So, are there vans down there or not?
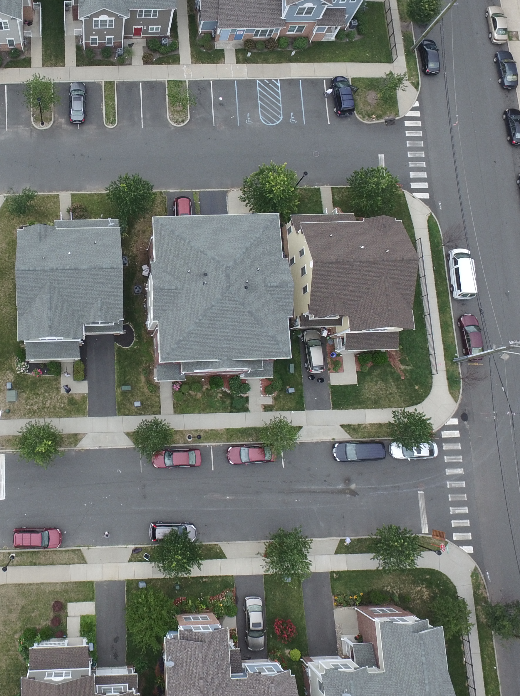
Yes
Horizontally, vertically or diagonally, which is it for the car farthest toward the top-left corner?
vertically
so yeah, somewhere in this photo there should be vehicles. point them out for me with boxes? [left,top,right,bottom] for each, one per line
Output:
[173,193,192,216]
[226,444,278,466]
[503,109,520,146]
[325,77,362,117]
[418,39,441,76]
[458,315,487,361]
[152,449,202,470]
[331,439,388,463]
[449,249,481,300]
[387,441,440,462]
[68,82,87,125]
[494,51,520,91]
[302,330,326,373]
[13,526,62,551]
[484,6,510,45]
[243,596,269,651]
